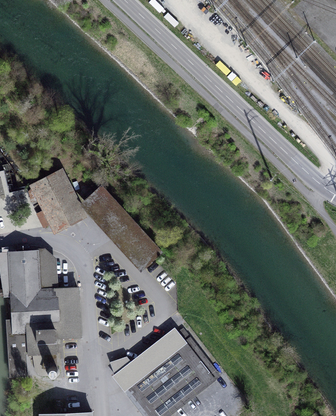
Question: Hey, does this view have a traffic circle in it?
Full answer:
No, there isn't any traffic circle down there.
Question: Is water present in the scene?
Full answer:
Yes, water shows up in the scene.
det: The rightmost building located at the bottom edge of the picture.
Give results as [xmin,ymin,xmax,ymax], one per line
[112,328,217,416]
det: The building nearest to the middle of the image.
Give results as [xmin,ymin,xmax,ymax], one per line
[83,186,160,270]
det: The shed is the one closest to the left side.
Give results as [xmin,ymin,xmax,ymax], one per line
[6,320,27,378]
